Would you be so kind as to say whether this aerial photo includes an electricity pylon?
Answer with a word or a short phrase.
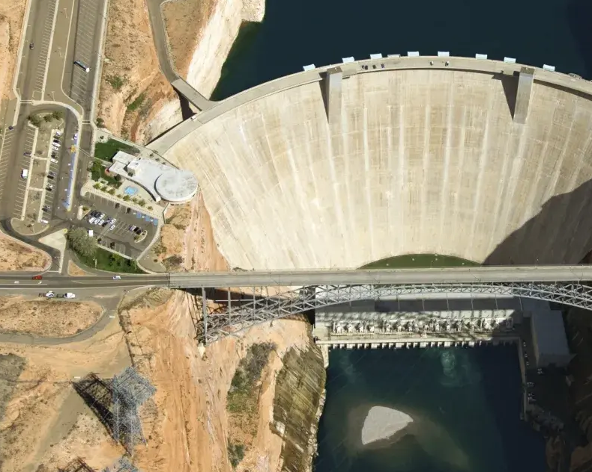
Yes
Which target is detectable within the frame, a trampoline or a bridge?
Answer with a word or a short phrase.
bridge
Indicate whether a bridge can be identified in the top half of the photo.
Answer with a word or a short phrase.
Yes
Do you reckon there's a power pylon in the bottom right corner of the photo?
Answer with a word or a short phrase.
No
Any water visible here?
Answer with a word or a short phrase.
Yes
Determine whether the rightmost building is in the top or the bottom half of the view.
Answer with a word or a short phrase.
bottom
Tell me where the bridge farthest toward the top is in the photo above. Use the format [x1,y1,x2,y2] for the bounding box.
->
[170,76,214,116]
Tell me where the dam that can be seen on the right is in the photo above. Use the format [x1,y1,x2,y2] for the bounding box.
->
[150,50,592,268]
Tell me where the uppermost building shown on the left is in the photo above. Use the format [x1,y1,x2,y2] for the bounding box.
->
[108,151,198,208]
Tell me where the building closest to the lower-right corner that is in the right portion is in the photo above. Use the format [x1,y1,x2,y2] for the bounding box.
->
[529,310,574,384]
